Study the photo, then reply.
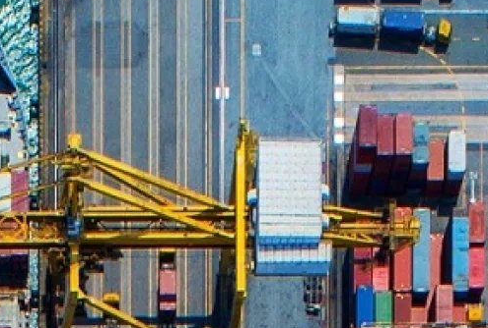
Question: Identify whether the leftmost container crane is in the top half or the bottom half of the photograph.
bottom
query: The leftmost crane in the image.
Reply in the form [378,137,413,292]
[0,117,422,328]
